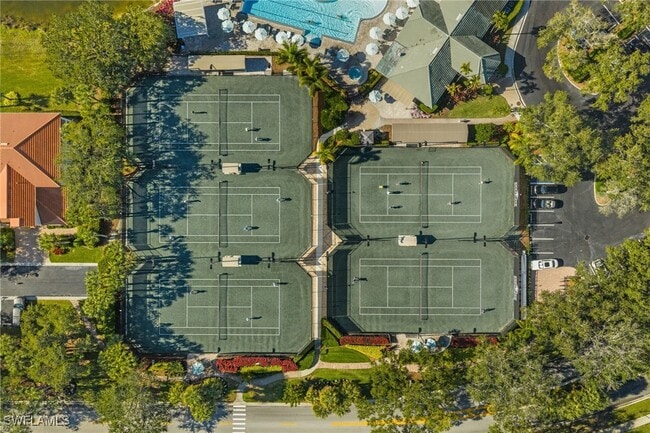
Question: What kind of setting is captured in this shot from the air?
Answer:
sports ground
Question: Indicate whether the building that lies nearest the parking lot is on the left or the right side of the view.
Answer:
right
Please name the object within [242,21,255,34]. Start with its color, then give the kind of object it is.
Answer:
white umbrella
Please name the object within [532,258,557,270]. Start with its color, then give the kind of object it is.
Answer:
white vehicle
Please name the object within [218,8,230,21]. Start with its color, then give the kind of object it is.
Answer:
white umbrella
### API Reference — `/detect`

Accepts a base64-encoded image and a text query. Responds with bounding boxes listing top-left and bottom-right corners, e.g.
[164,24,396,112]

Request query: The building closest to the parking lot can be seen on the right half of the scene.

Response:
[390,0,508,108]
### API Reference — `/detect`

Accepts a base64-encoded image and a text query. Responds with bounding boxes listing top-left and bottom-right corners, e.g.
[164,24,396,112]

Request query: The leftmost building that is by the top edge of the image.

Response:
[173,0,211,43]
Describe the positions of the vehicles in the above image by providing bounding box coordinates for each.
[12,298,28,326]
[532,258,557,270]
[533,185,557,196]
[0,307,10,331]
[533,198,557,210]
